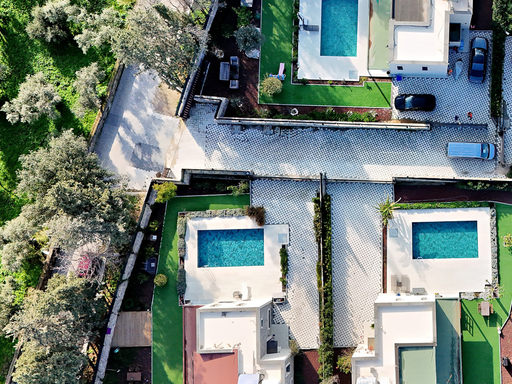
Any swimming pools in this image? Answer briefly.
Yes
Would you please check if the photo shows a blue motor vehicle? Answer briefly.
Yes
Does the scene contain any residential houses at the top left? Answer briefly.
No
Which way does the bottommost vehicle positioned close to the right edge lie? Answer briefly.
horizontally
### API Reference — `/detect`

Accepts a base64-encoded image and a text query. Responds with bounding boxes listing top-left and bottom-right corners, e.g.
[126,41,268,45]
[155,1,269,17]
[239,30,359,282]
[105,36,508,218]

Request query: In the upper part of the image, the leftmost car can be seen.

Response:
[394,92,436,113]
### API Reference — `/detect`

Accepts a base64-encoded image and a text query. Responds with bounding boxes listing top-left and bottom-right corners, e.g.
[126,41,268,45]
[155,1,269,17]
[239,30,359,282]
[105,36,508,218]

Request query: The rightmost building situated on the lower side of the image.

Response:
[351,296,462,384]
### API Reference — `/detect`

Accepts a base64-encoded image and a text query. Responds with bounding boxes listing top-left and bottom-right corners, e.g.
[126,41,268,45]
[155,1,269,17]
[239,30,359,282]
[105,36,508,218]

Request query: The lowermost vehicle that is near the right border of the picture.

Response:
[448,140,494,161]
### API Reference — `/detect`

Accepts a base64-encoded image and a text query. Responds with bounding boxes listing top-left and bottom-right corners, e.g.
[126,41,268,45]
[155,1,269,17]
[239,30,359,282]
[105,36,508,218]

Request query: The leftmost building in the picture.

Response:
[182,300,297,384]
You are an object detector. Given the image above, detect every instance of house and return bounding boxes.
[351,296,462,384]
[367,0,473,77]
[182,300,297,384]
